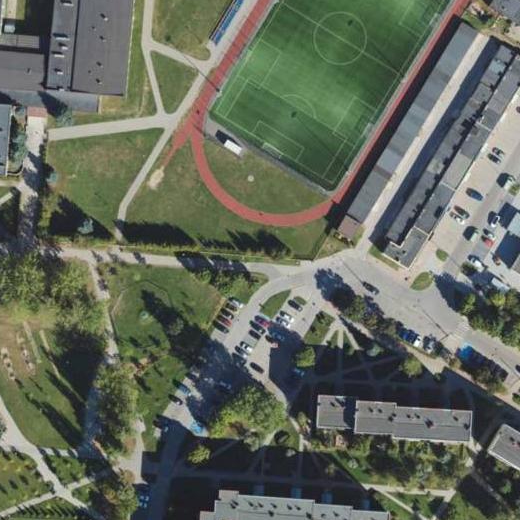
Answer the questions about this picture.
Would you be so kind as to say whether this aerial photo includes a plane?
No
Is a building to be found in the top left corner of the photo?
Yes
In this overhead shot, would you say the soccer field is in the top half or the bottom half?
top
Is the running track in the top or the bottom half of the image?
top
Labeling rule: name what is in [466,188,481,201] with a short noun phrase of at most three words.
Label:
vehicle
